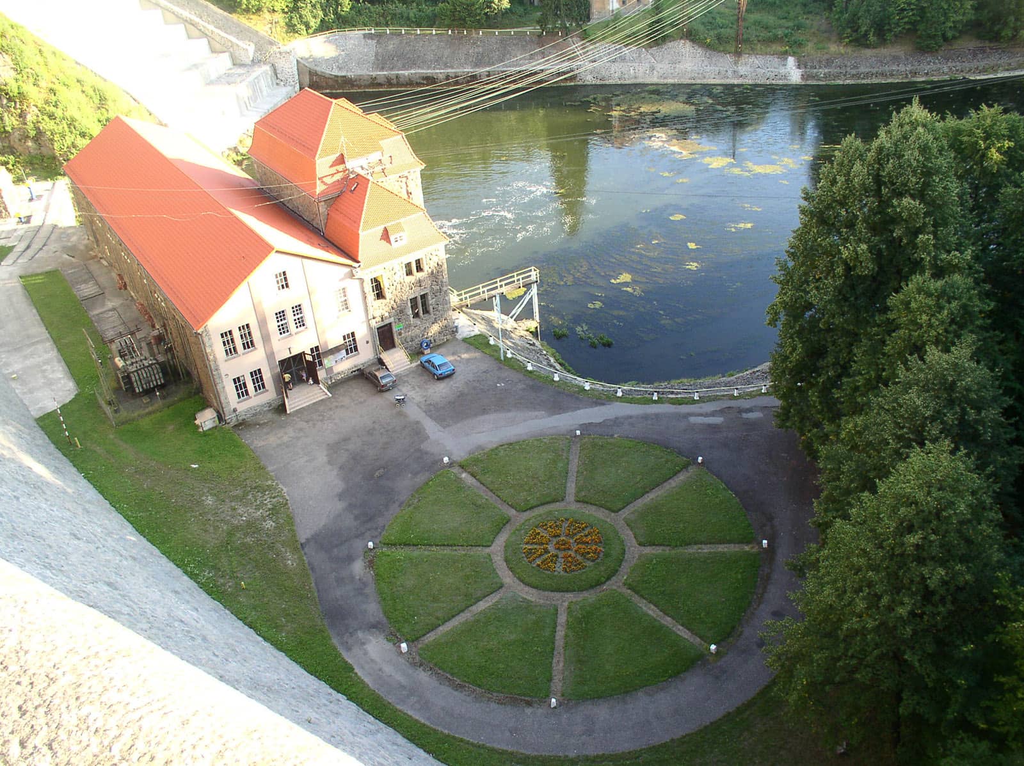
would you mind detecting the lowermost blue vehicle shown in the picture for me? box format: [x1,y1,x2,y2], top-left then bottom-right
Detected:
[418,348,455,377]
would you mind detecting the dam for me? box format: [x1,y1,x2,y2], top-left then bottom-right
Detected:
[0,376,450,766]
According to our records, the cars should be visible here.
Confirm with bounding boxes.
[418,348,455,377]
[360,362,397,390]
